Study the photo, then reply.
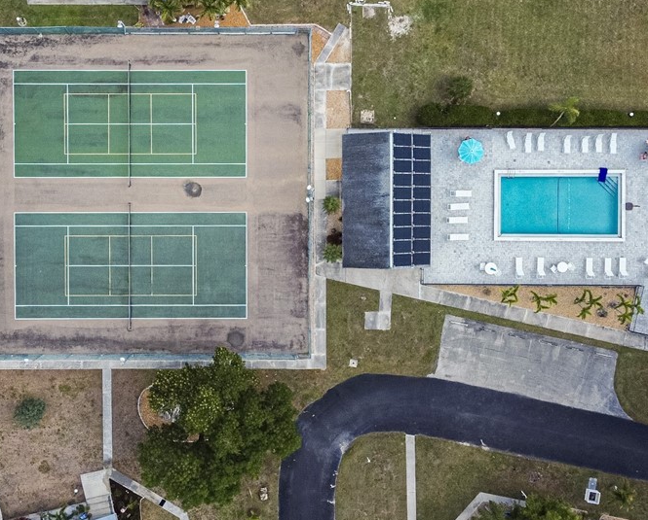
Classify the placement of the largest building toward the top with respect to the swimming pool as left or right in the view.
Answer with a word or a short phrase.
on the left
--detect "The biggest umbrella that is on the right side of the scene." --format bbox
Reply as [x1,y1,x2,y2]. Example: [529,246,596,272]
[457,139,483,164]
